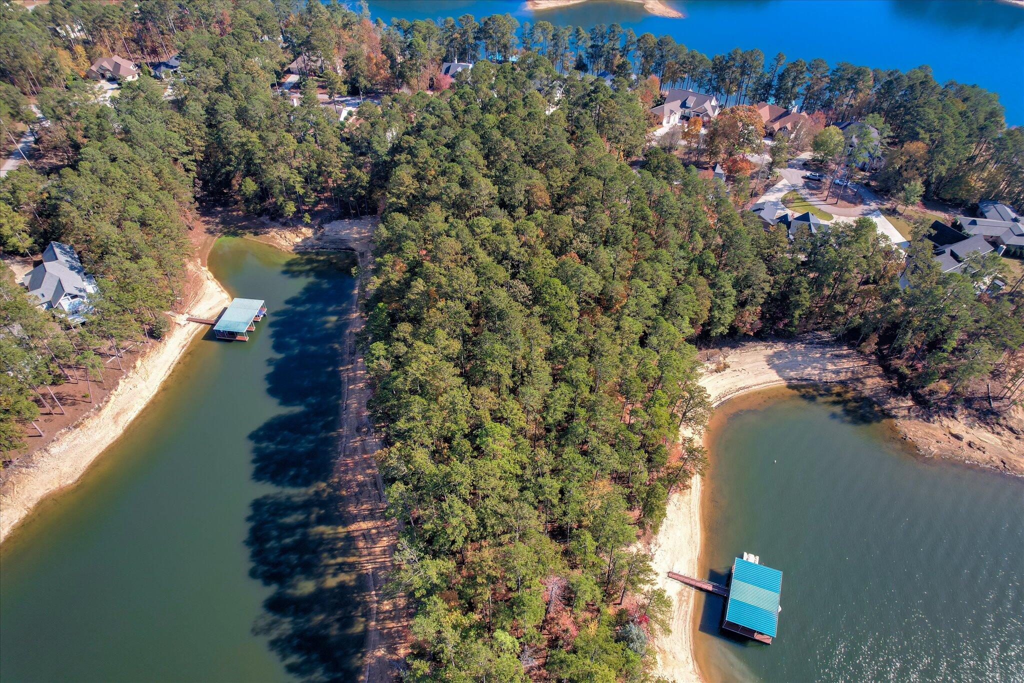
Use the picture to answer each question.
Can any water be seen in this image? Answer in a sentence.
Yes, there's water in this view.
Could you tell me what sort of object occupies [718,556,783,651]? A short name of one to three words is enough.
pier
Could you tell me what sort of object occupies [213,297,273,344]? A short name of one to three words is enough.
pier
